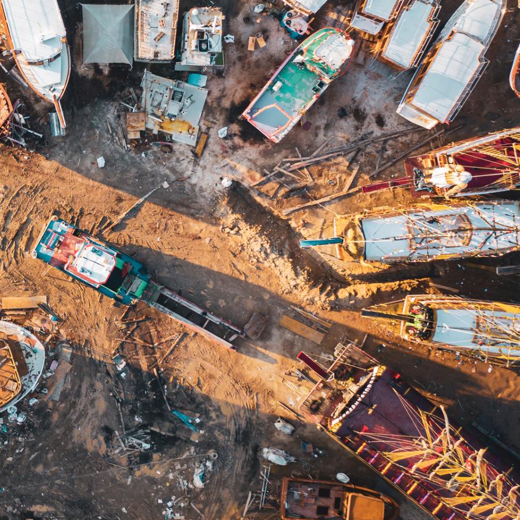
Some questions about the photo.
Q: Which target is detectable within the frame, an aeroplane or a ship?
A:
ship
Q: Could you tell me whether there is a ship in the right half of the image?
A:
Yes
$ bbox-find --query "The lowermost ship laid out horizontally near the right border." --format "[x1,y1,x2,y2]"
[360,293,520,370]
